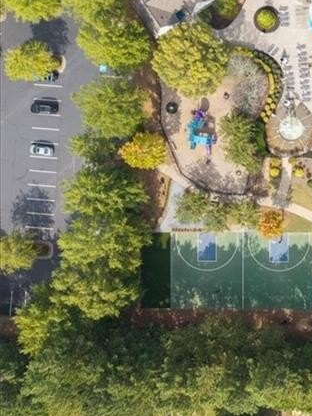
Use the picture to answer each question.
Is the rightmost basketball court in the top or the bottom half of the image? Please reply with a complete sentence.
The rightmost basketball court is in the bottom half of the image.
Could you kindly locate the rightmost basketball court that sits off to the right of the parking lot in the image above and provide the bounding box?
[170,232,312,309]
